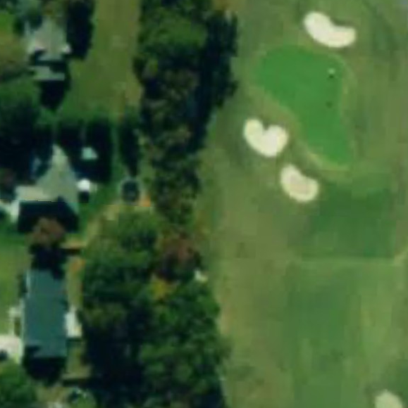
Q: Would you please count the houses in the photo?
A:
three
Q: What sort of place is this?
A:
golf course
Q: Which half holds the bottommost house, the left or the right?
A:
left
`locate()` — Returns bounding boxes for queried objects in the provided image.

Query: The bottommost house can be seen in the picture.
[23,267,80,357]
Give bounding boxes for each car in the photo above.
[0,349,8,357]
[0,207,5,216]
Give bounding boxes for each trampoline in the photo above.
[121,179,139,197]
